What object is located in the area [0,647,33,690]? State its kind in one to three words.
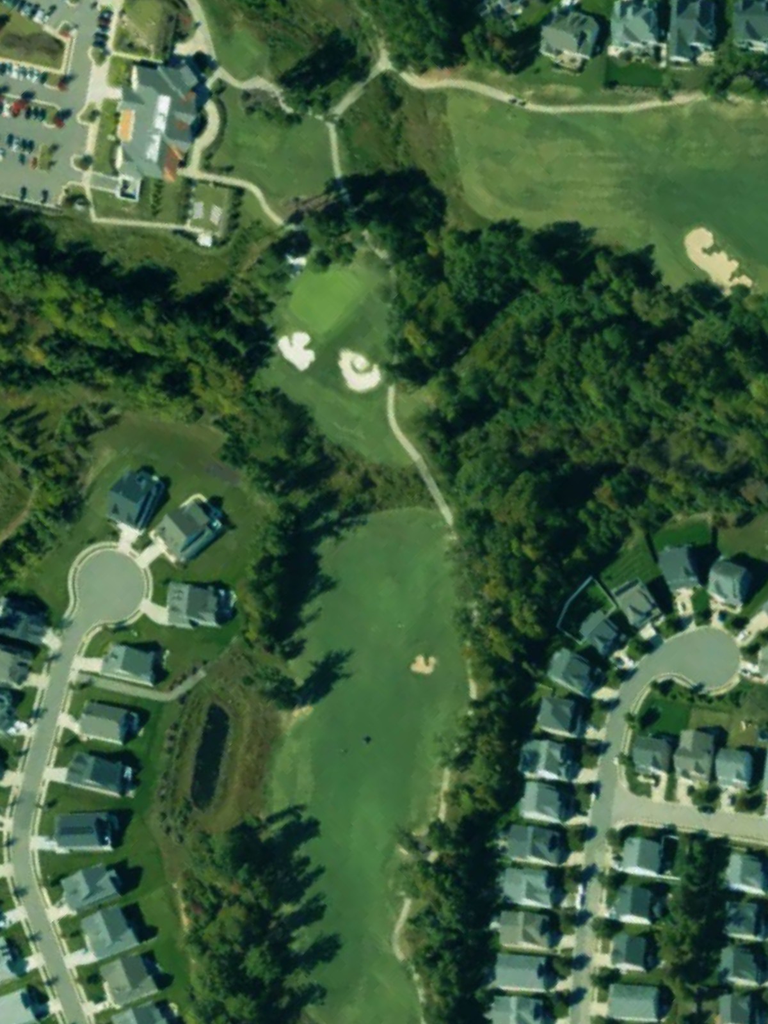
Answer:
house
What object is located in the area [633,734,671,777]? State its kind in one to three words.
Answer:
house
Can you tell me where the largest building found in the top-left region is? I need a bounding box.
[108,60,209,187]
